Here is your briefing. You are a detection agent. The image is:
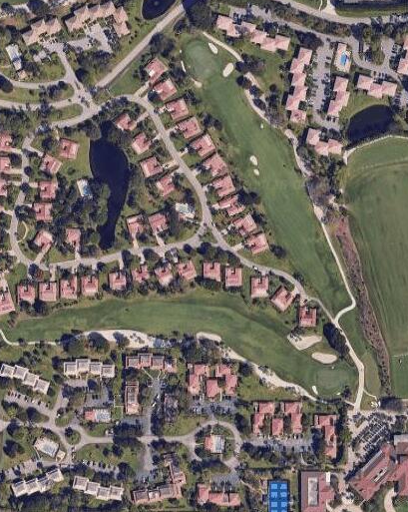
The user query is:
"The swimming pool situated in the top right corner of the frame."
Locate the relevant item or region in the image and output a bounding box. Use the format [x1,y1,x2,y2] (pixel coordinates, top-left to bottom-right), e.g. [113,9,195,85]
[335,44,351,72]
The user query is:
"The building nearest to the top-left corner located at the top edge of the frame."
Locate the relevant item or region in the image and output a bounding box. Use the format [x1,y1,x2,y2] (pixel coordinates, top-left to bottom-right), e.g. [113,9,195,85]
[20,18,62,48]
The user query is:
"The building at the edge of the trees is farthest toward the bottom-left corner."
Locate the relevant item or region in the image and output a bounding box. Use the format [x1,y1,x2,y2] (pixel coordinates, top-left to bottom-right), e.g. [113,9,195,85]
[11,468,64,497]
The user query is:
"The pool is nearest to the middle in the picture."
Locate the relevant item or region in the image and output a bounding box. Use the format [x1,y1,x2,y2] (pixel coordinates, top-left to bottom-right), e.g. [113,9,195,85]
[176,202,193,219]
